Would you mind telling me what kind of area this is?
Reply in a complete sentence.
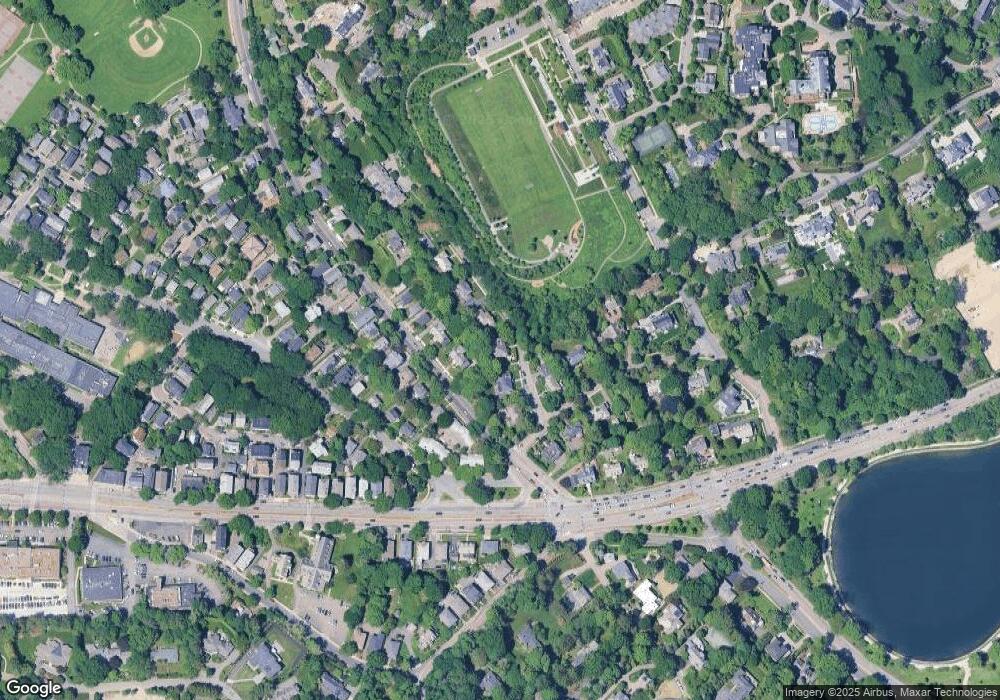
This image shows a residential area.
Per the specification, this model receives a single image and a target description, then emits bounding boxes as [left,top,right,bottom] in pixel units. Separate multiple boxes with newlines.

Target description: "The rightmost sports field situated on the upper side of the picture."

[433,70,581,259]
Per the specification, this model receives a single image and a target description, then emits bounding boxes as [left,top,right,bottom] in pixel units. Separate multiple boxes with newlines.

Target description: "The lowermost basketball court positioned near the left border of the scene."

[0,56,42,123]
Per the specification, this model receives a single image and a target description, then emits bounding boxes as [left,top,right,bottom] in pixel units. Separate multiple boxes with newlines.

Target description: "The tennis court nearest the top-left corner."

[0,12,25,57]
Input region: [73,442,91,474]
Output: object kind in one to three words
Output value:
house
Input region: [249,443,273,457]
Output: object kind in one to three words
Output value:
house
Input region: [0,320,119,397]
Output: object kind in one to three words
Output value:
building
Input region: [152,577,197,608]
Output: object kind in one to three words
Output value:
building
